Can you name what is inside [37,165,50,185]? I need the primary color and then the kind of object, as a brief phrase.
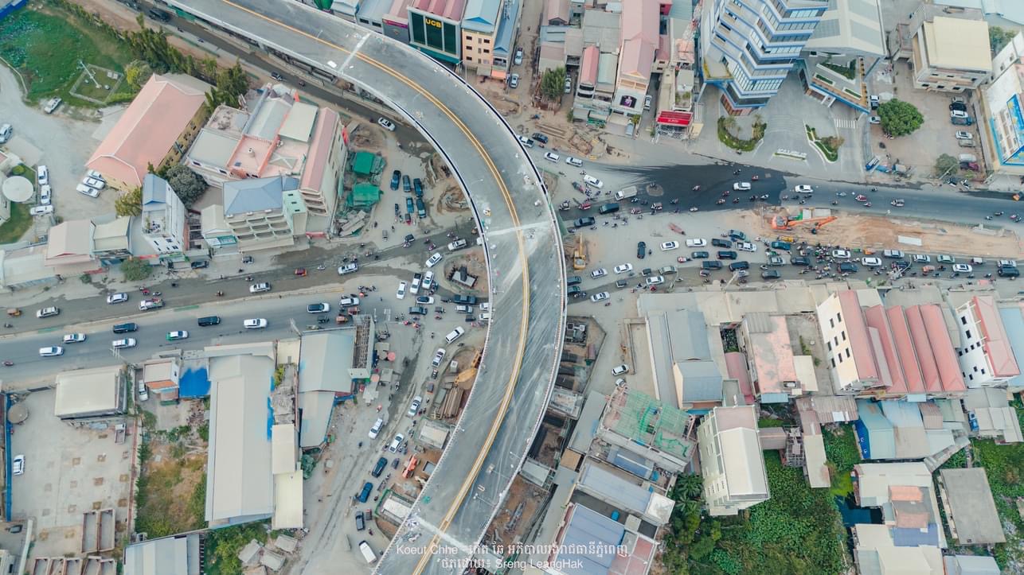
white vehicle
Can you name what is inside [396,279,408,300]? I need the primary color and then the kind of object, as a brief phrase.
white vehicle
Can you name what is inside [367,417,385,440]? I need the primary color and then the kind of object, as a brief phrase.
white car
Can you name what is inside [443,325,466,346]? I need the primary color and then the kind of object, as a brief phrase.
white car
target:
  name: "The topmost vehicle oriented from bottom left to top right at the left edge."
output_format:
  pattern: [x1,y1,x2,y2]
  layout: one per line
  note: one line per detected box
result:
[43,97,64,114]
